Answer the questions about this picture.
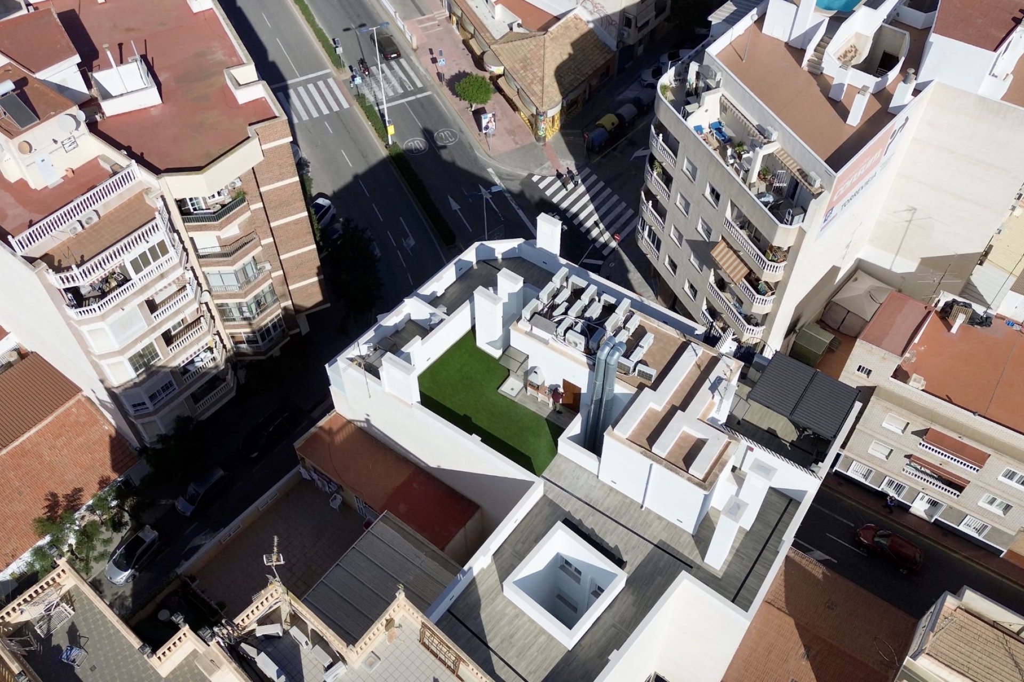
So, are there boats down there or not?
No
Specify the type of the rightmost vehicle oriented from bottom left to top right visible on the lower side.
automobile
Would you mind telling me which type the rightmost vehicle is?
car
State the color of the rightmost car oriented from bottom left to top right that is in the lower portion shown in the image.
black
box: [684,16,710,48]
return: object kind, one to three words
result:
car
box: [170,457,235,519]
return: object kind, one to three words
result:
car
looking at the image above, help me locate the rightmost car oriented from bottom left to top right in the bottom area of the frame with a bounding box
[237,399,300,458]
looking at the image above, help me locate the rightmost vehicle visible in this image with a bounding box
[854,519,938,577]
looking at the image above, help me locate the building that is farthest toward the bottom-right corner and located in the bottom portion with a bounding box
[885,586,1024,682]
